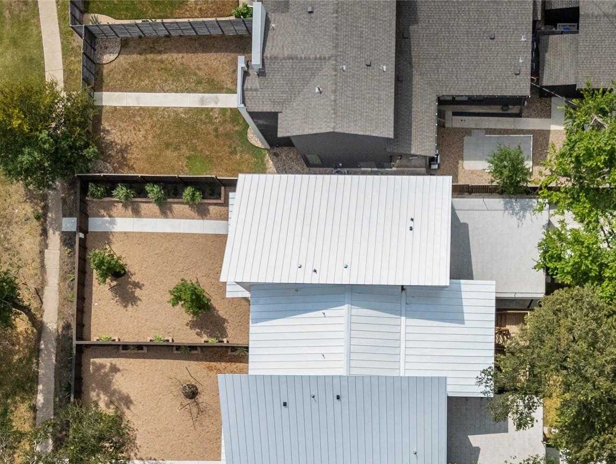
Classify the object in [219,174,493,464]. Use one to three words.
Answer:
house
